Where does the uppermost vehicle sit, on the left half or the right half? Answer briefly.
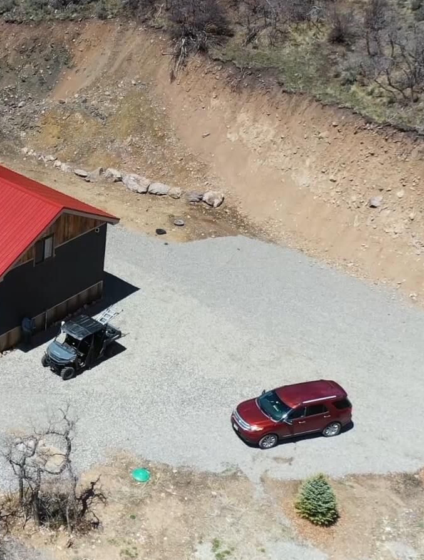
left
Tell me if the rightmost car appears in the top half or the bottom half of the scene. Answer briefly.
bottom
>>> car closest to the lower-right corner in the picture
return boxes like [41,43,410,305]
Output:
[226,377,356,451]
